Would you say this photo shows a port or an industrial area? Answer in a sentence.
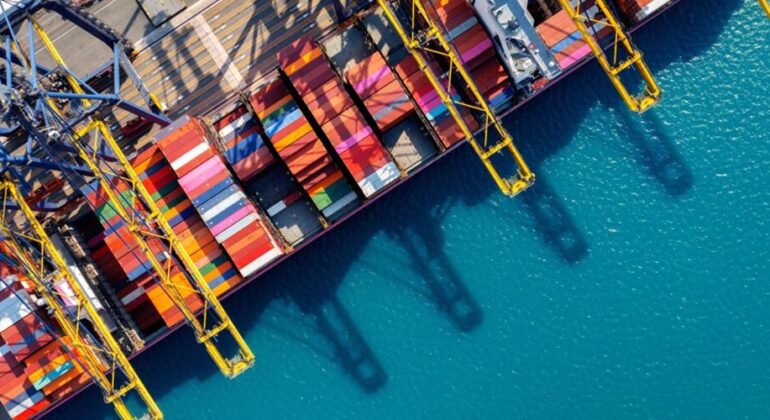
It's a port.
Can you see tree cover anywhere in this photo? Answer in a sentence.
No, tree cover can't be seen anywhere here.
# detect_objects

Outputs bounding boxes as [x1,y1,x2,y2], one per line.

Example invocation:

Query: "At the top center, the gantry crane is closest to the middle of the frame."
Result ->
[326,0,541,201]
